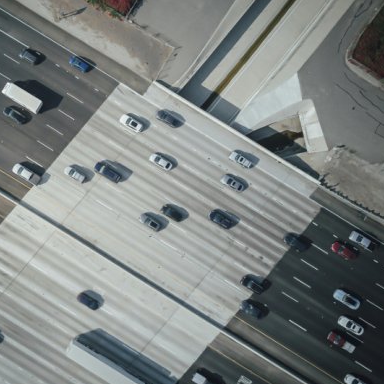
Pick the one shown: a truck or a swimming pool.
truck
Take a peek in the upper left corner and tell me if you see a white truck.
Yes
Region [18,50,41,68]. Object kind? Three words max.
car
